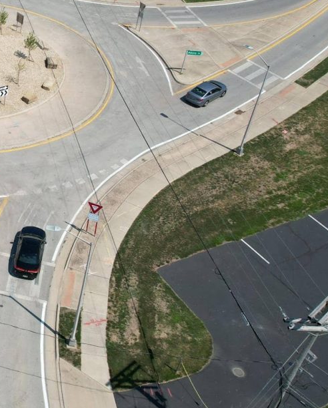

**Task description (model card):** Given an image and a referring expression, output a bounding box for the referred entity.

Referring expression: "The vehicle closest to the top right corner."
[180,76,233,106]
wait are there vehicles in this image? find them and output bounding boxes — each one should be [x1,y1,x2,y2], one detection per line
[180,76,233,106]
[9,220,50,283]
